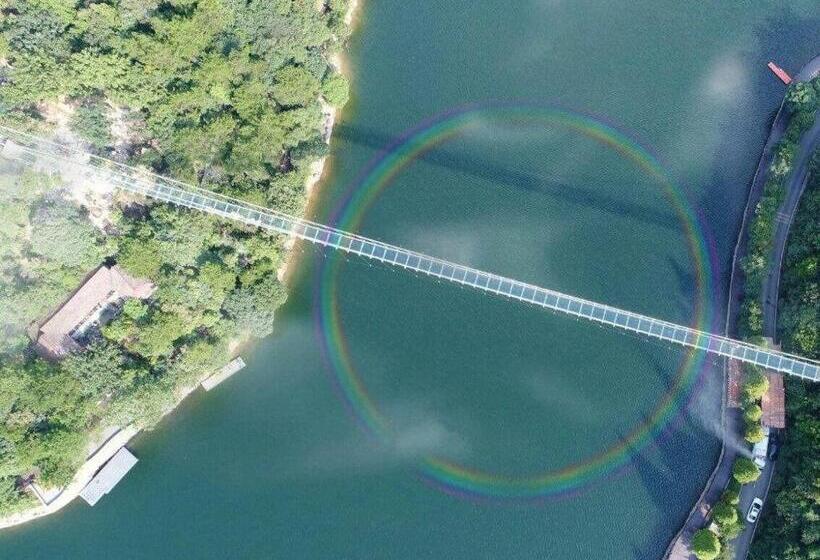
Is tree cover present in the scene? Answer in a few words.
Yes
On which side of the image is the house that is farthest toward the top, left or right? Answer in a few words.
left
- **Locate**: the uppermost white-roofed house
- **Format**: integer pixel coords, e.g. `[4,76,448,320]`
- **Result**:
[37,259,157,361]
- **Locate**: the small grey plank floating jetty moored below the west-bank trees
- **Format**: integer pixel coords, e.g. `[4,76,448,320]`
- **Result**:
[202,357,247,392]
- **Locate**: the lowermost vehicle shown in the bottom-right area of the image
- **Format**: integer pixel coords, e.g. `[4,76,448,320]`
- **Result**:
[745,497,764,523]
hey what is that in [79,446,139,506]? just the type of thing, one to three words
building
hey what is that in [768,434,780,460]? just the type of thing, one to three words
vehicle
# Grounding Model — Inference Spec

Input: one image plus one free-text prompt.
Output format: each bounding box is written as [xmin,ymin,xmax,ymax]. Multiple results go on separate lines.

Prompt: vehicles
[745,497,764,523]
[750,429,770,467]
[768,434,780,460]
